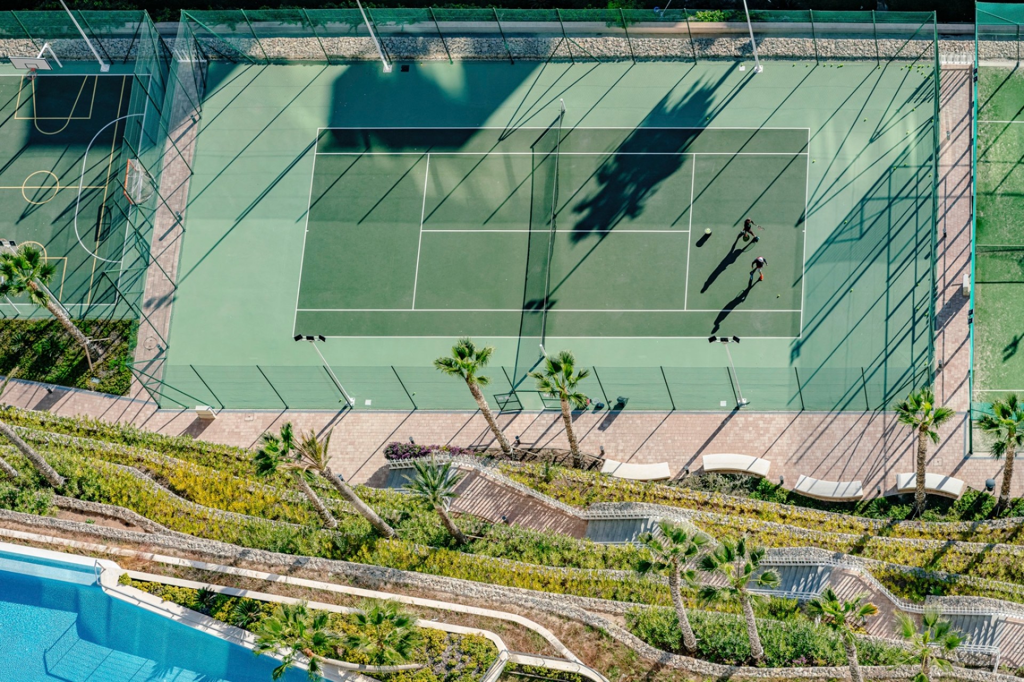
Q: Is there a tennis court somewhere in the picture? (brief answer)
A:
Yes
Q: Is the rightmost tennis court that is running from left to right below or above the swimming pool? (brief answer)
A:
above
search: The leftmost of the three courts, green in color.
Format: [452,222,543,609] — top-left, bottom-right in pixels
[0,61,176,322]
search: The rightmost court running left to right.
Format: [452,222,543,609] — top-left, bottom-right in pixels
[155,60,938,411]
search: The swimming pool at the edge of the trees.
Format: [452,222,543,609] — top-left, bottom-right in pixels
[0,544,376,682]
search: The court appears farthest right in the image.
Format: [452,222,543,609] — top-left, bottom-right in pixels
[972,59,1024,455]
